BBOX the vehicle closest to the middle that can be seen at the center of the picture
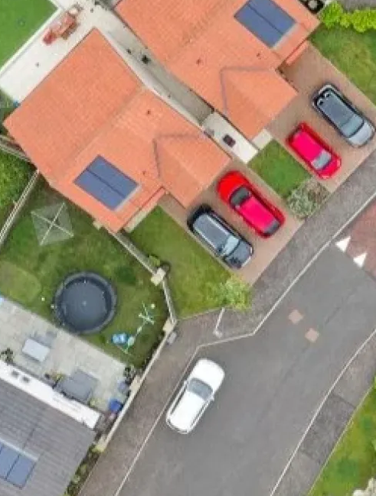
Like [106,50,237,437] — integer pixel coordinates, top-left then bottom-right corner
[182,202,257,273]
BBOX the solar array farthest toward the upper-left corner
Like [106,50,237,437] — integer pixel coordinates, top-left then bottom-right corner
[72,155,145,214]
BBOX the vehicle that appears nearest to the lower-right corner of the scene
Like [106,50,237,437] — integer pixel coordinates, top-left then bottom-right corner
[167,355,223,437]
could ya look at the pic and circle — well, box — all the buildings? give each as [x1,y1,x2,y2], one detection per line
[3,26,234,235]
[113,0,322,140]
[0,359,103,496]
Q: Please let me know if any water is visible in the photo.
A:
No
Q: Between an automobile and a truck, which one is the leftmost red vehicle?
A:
automobile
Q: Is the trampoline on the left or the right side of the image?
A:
left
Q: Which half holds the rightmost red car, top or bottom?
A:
top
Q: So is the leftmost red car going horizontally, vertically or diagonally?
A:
diagonally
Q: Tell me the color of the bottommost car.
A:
white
